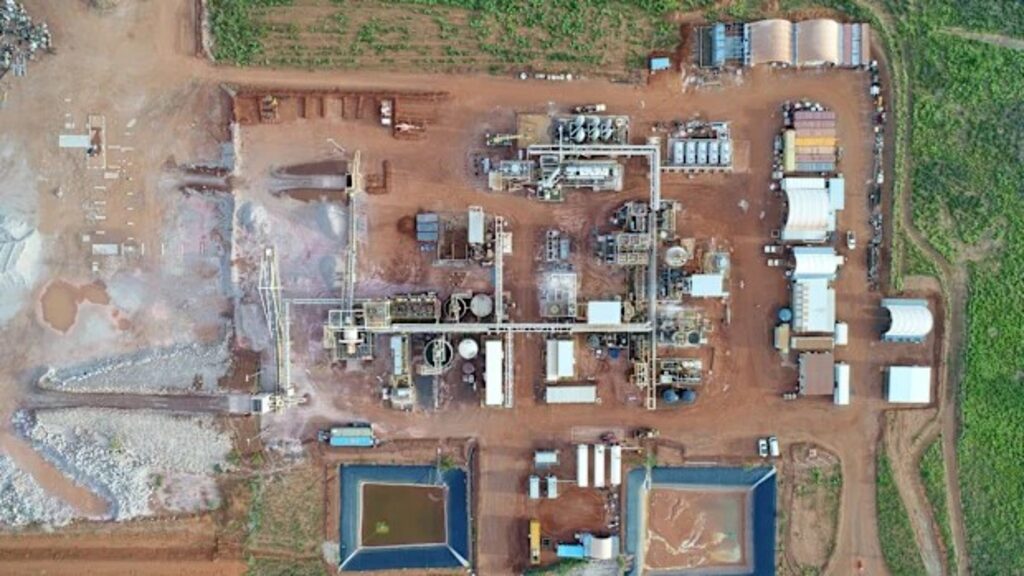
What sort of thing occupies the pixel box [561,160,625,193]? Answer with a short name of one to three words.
building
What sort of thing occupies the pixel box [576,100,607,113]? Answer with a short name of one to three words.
vehicle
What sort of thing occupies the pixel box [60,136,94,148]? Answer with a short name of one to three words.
building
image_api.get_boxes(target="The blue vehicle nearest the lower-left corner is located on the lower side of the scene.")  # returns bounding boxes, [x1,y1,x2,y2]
[321,434,375,446]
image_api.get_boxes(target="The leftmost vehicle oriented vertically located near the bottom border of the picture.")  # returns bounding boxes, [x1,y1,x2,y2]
[529,519,542,562]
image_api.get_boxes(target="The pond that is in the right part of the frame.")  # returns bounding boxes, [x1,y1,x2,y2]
[624,465,779,576]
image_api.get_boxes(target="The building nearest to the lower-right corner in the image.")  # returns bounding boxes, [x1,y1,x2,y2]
[882,366,930,403]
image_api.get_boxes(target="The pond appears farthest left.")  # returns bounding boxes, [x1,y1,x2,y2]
[337,461,474,574]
